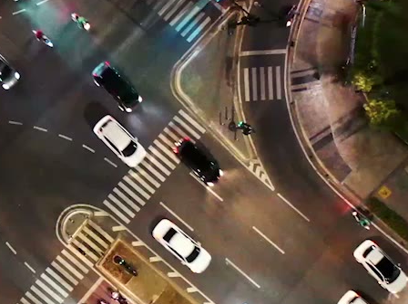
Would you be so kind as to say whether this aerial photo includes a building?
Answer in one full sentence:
No, there isn't any building down there.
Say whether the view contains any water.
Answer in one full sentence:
No, there is no water in the image.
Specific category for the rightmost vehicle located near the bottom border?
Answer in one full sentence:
It looks like the rightmost vehicle located near the bottom border is a car.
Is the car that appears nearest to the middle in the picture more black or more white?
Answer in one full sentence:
In this view, the car that appears nearest to the middle is black.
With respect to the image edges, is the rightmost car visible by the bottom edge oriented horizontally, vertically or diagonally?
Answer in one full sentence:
From this overhead view, the rightmost car visible by the bottom edge appears to run diagonally.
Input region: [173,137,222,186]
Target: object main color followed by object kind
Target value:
black car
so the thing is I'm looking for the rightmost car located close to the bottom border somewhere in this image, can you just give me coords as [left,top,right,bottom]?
[352,240,406,293]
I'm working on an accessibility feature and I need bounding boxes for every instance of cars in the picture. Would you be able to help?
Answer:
[0,54,20,90]
[152,219,208,270]
[173,137,222,186]
[352,240,406,293]
[91,59,142,112]
[92,115,145,168]
[336,290,367,304]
